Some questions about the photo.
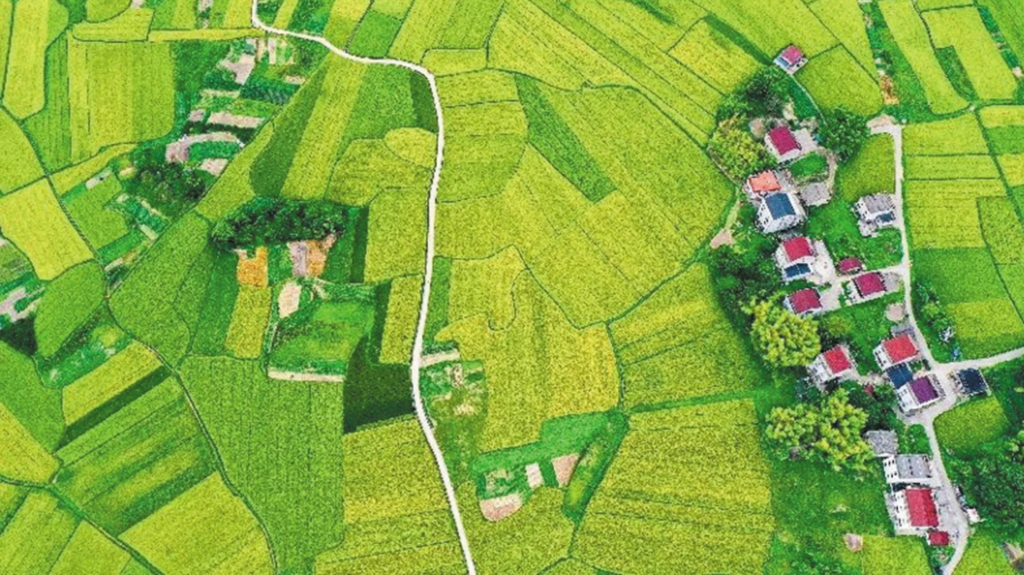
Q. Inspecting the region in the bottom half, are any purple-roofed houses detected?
Yes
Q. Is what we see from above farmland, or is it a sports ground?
farmland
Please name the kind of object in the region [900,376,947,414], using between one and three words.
house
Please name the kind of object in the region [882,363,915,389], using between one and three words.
house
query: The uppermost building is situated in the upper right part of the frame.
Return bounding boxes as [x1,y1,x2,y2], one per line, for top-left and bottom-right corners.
[774,46,810,75]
